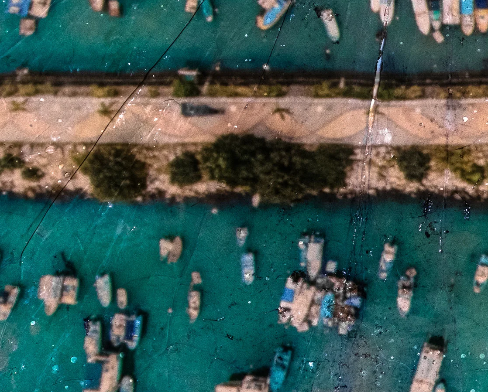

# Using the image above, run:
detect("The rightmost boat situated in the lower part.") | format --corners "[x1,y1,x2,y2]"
[471,252,488,295]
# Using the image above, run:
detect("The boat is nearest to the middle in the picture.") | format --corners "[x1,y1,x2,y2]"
[235,227,249,248]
